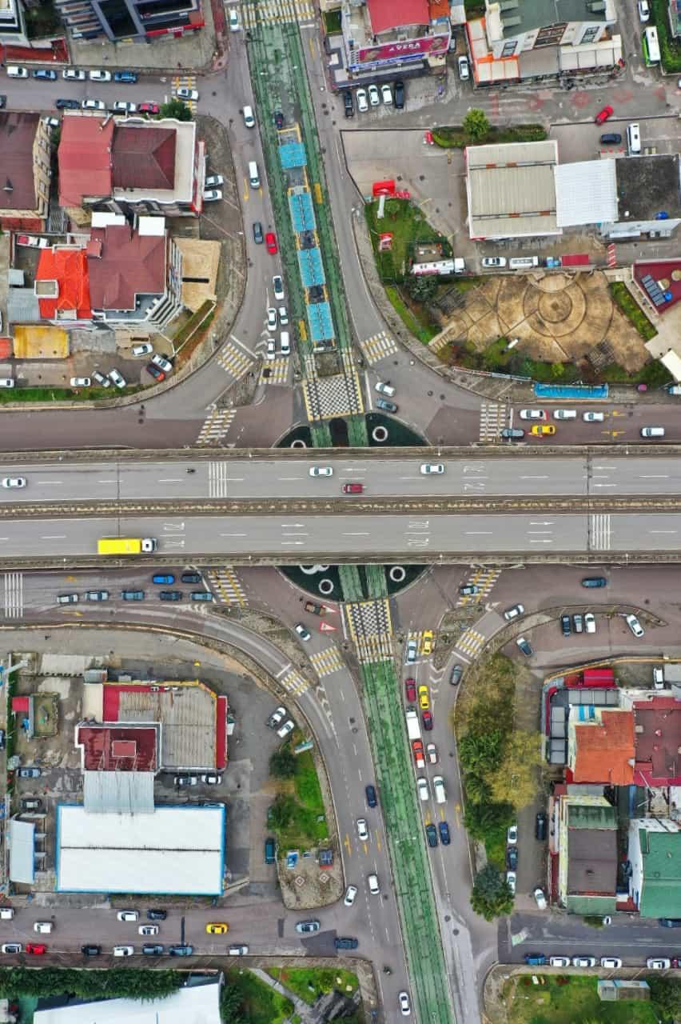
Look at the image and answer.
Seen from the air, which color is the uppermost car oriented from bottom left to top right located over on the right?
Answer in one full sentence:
The uppermost car oriented from bottom left to top right located over on the right is red.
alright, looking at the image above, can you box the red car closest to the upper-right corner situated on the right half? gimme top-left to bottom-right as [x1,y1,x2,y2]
[594,105,614,127]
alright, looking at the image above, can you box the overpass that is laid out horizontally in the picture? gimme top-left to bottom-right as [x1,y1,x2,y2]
[0,444,681,567]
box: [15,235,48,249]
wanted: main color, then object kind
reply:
white vehicle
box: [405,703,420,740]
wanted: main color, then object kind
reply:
white vehicle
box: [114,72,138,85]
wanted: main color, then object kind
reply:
blue vehicle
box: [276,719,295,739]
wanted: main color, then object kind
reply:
white car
